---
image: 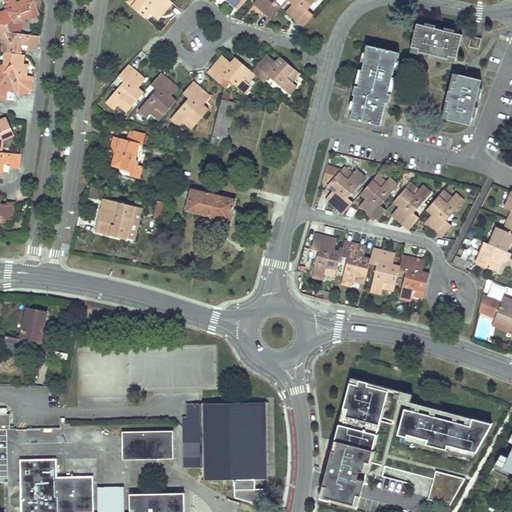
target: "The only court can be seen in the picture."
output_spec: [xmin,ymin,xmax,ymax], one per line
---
[77,345,217,408]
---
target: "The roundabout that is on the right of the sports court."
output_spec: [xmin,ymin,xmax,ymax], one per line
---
[212,264,337,392]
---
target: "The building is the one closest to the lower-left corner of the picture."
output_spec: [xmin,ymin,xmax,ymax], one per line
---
[18,459,57,512]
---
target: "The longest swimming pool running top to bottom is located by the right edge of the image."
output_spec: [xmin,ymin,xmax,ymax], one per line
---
[475,312,492,341]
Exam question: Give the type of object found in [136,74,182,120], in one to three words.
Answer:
house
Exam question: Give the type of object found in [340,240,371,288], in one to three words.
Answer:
house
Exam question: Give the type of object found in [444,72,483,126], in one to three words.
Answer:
building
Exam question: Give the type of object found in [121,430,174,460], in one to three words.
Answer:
building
